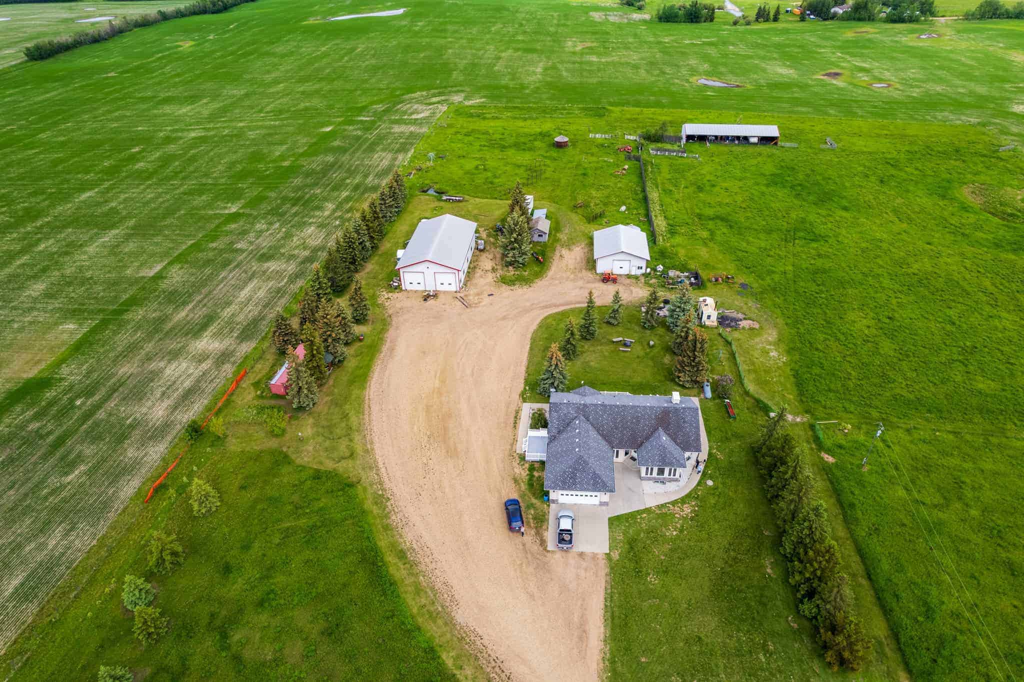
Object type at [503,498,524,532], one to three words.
car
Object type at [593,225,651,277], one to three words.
building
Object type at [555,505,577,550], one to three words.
truck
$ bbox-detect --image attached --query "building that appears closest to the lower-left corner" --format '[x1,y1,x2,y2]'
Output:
[266,367,290,399]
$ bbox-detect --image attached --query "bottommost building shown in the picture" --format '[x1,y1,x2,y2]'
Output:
[516,387,702,507]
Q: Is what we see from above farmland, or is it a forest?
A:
farmland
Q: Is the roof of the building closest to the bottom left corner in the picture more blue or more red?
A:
red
